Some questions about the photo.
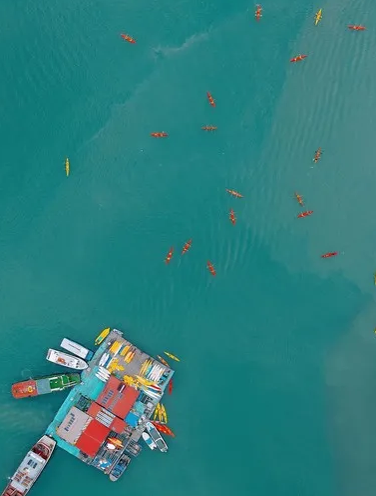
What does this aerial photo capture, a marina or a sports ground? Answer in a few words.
marina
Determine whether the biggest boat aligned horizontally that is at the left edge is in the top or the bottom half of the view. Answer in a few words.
bottom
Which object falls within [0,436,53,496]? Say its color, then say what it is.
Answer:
white boat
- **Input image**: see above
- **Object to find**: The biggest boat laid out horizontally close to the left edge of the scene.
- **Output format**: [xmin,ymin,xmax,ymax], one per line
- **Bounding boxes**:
[11,373,81,400]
